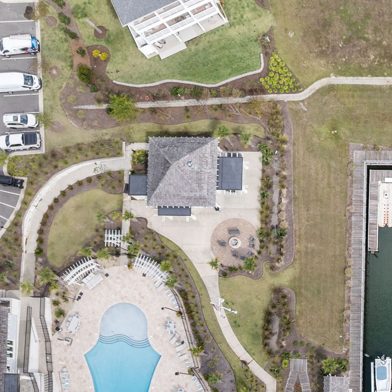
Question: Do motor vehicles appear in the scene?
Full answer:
Yes, the picture does show a motor vehicle.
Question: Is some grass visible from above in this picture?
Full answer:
Yes, grass shows up in the scene.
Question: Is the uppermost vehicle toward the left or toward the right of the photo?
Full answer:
The uppermost vehicle appears in the left half of the scene.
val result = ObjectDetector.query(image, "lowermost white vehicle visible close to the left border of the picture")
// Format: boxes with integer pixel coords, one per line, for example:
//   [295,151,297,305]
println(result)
[0,132,44,152]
